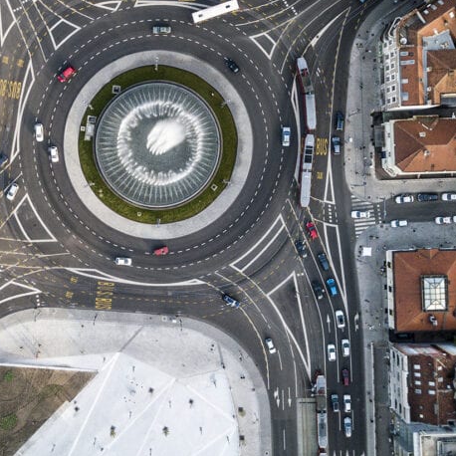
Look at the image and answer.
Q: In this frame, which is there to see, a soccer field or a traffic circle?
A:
traffic circle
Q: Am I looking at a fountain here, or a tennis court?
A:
fountain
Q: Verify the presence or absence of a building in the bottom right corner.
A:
Yes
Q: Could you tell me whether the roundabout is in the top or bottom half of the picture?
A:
top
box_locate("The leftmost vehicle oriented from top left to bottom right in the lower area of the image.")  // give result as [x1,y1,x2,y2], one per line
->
[221,293,239,307]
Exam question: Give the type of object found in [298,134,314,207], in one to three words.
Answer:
train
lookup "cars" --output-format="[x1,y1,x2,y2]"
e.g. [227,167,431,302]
[344,419,352,435]
[352,211,371,218]
[342,338,350,356]
[7,183,20,200]
[265,337,275,354]
[326,279,337,296]
[295,239,309,258]
[56,65,75,81]
[35,124,44,140]
[391,219,407,227]
[50,145,58,162]
[327,343,337,361]
[334,111,344,130]
[318,251,329,271]
[336,310,345,328]
[343,394,351,413]
[153,245,169,256]
[281,127,289,145]
[434,216,453,224]
[442,193,456,202]
[332,137,341,154]
[395,195,413,204]
[341,367,350,385]
[223,57,240,75]
[114,257,133,266]
[153,25,170,33]
[313,281,324,300]
[419,193,437,203]
[221,293,239,307]
[305,221,318,239]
